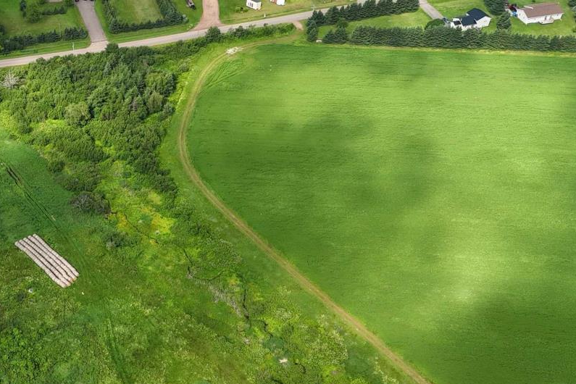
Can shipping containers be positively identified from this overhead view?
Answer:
No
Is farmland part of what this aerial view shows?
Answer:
Yes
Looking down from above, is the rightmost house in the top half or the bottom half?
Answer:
top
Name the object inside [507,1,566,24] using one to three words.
house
